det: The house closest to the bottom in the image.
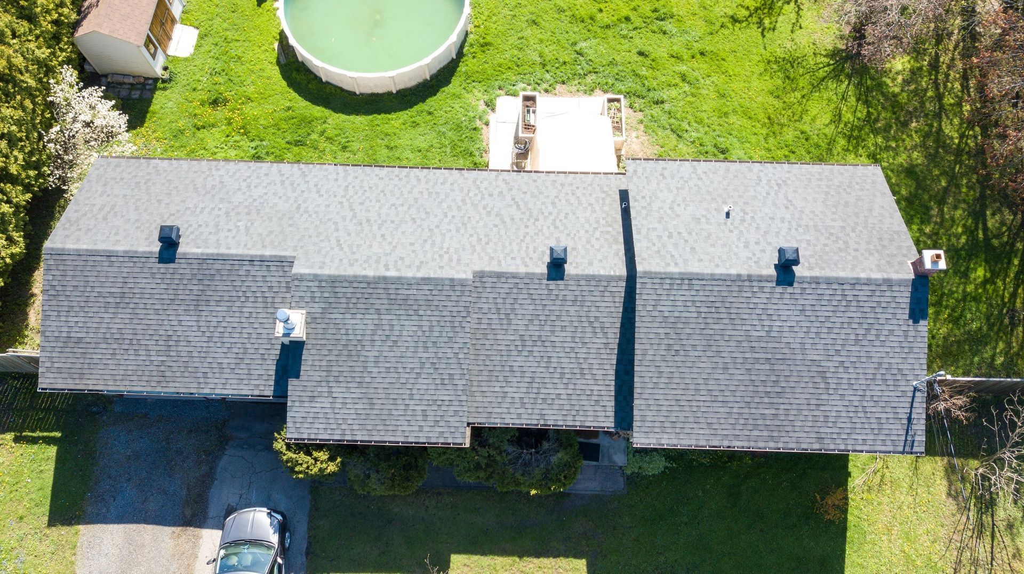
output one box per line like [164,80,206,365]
[38,154,950,467]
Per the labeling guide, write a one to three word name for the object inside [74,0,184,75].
shed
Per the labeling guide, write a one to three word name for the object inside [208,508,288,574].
car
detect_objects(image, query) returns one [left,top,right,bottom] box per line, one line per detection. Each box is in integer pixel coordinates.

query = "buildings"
[38,154,950,467]
[74,0,184,75]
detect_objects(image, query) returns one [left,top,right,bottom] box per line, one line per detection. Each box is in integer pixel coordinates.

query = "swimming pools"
[278,0,473,92]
